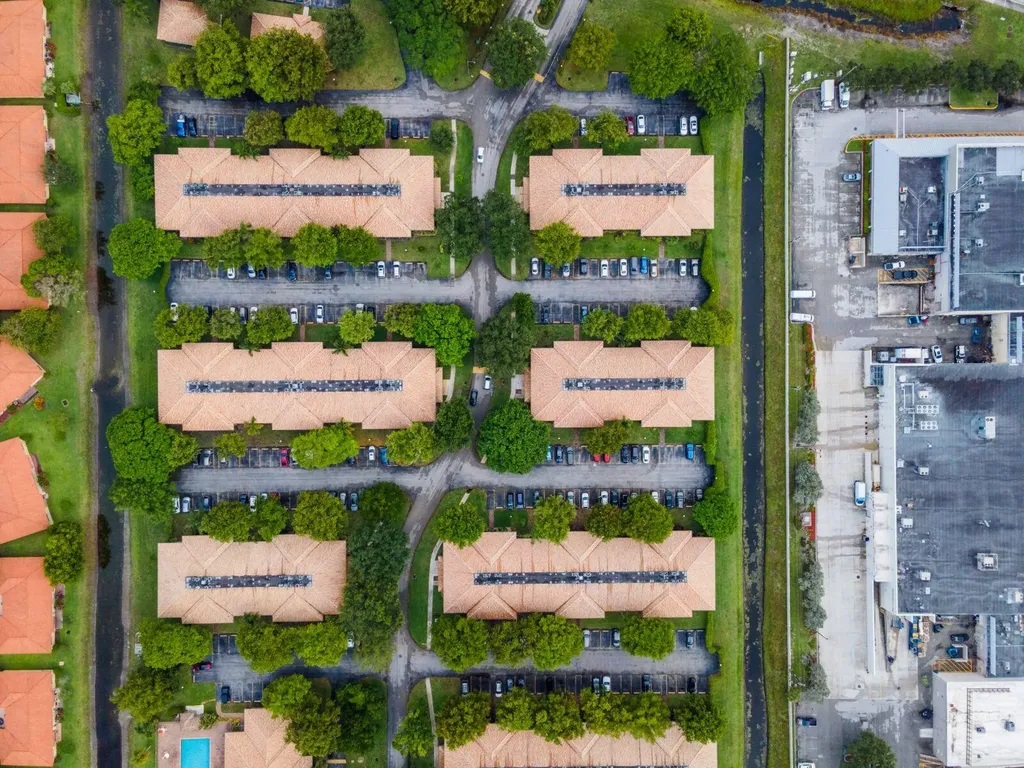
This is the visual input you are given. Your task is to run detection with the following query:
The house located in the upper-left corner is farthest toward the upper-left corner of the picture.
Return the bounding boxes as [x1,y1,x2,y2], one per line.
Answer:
[0,1,50,100]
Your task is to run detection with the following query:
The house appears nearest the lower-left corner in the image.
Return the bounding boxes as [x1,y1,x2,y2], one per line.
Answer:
[0,668,59,767]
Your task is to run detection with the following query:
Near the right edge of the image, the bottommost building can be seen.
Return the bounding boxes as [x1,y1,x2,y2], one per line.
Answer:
[933,672,1024,768]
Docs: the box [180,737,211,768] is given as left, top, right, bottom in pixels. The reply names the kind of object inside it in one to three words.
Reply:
swimming pool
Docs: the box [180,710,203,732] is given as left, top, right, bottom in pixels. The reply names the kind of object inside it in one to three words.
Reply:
building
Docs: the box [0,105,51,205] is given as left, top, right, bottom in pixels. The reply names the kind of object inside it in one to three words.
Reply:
house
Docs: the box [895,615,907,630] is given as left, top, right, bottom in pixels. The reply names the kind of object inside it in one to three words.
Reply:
vehicle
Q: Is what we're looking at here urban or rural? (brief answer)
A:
urban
